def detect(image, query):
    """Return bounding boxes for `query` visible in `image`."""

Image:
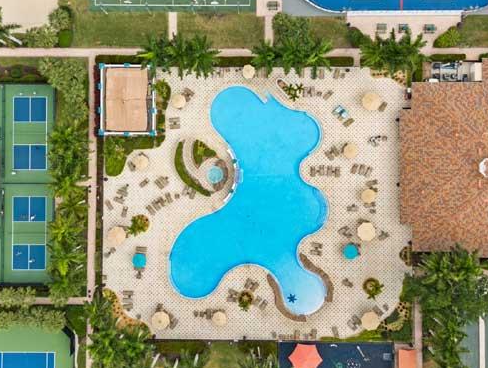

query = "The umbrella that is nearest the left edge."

[106,227,125,245]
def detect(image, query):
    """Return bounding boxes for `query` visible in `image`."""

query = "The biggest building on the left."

[97,63,156,136]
